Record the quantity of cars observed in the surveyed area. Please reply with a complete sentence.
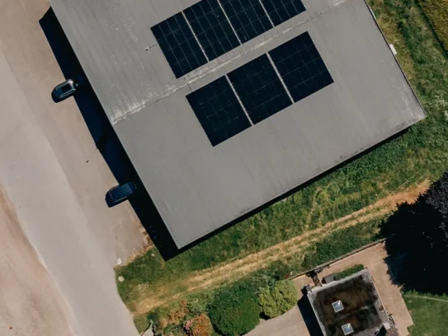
The photo contains 2 cars.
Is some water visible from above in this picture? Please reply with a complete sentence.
No, no water is visible.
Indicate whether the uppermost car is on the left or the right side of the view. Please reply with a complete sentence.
The uppermost car sits on the left side.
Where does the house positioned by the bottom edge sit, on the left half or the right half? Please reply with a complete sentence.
The house positioned by the bottom edge is on the right side of the image.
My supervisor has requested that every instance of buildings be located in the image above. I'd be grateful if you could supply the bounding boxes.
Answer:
[307,265,398,336]
[51,0,425,250]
